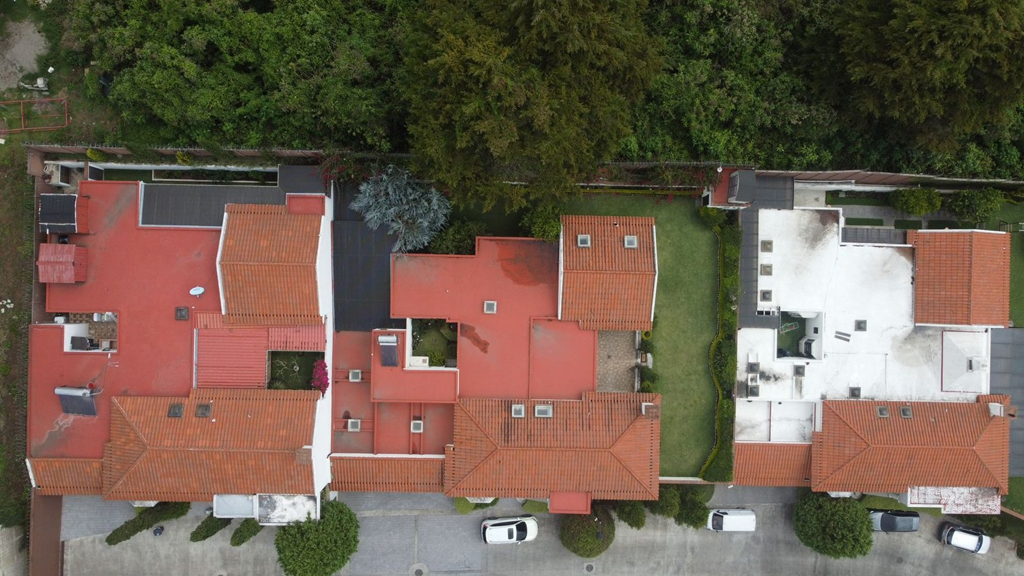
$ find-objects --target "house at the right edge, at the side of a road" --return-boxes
[697,169,1024,515]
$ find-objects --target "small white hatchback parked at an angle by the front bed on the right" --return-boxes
[937,518,995,556]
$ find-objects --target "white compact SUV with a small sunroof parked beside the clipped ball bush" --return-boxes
[480,513,539,544]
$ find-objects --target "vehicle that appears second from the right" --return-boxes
[864,505,923,535]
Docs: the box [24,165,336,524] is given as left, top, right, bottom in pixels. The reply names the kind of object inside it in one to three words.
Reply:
house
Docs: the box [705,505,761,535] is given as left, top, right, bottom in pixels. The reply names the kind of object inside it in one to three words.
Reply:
van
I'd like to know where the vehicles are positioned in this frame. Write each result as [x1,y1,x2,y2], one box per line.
[480,513,539,544]
[937,518,995,556]
[864,505,923,535]
[705,505,761,535]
